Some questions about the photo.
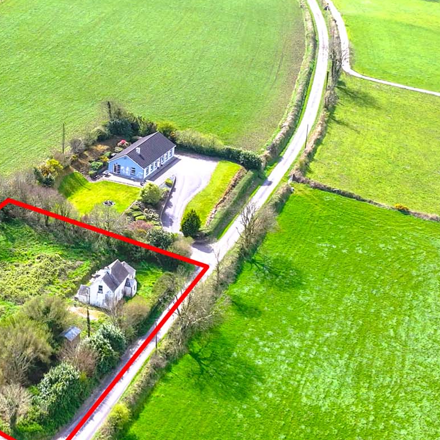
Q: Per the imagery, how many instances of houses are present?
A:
two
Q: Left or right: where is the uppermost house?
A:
left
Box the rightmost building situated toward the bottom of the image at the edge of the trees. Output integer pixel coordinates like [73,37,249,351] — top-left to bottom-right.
[78,257,143,309]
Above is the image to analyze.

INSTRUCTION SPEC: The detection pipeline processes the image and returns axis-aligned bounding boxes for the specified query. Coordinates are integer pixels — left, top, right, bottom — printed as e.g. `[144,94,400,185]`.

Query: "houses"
[109,133,174,181]
[78,257,143,309]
